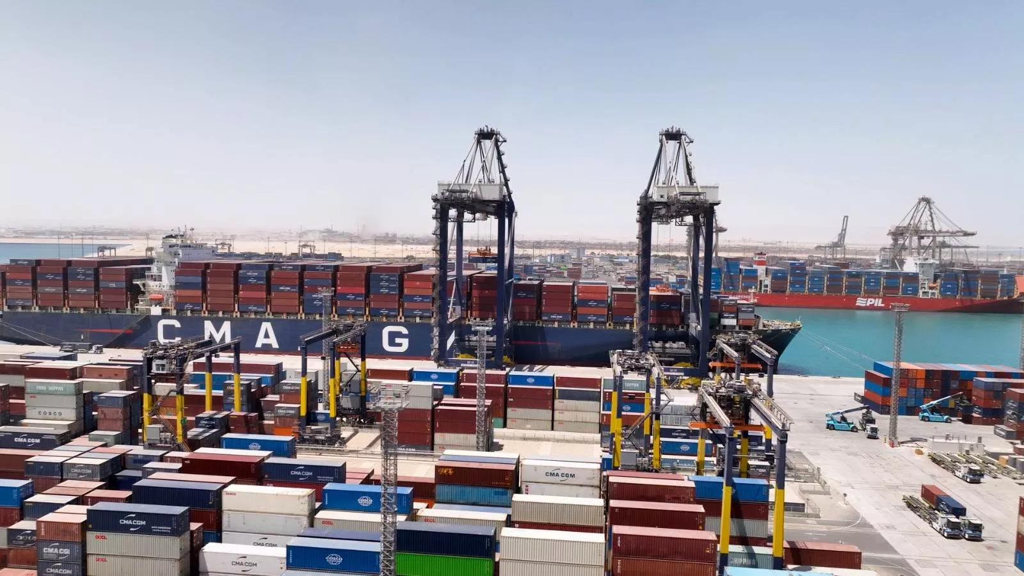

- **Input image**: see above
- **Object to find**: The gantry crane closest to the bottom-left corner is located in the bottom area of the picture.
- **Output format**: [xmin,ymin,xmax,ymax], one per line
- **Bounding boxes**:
[139,333,245,454]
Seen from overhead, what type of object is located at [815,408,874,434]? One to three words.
work vehicle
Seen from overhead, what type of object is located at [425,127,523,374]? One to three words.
container crane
